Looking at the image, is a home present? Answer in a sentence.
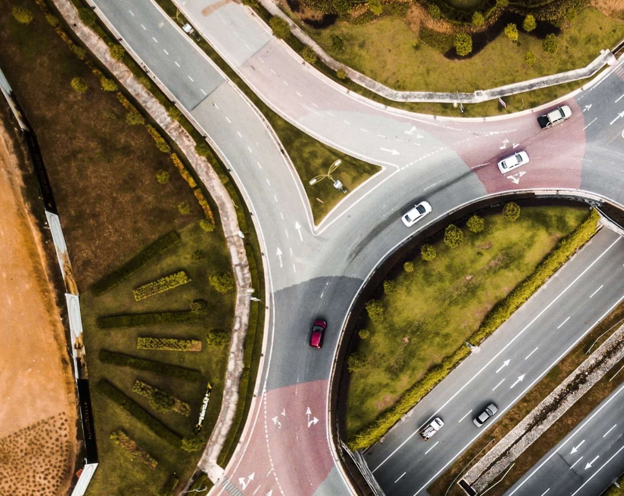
No, the picture doesn't show any home.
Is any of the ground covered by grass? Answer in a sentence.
Yes, some grass is visible.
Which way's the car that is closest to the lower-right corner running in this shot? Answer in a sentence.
The car that is closest to the lower-right corner is oriented on a diagonal.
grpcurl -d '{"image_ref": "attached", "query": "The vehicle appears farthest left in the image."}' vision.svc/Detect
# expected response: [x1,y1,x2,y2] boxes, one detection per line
[310,319,326,349]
